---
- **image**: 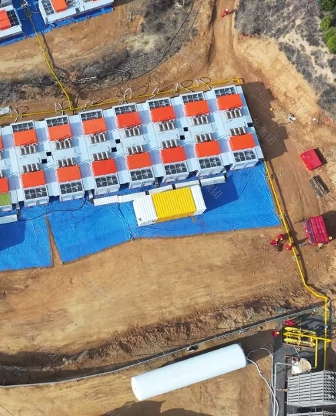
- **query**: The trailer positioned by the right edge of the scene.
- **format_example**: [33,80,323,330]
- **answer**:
[290,215,333,249]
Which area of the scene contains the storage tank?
bottom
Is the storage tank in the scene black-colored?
No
